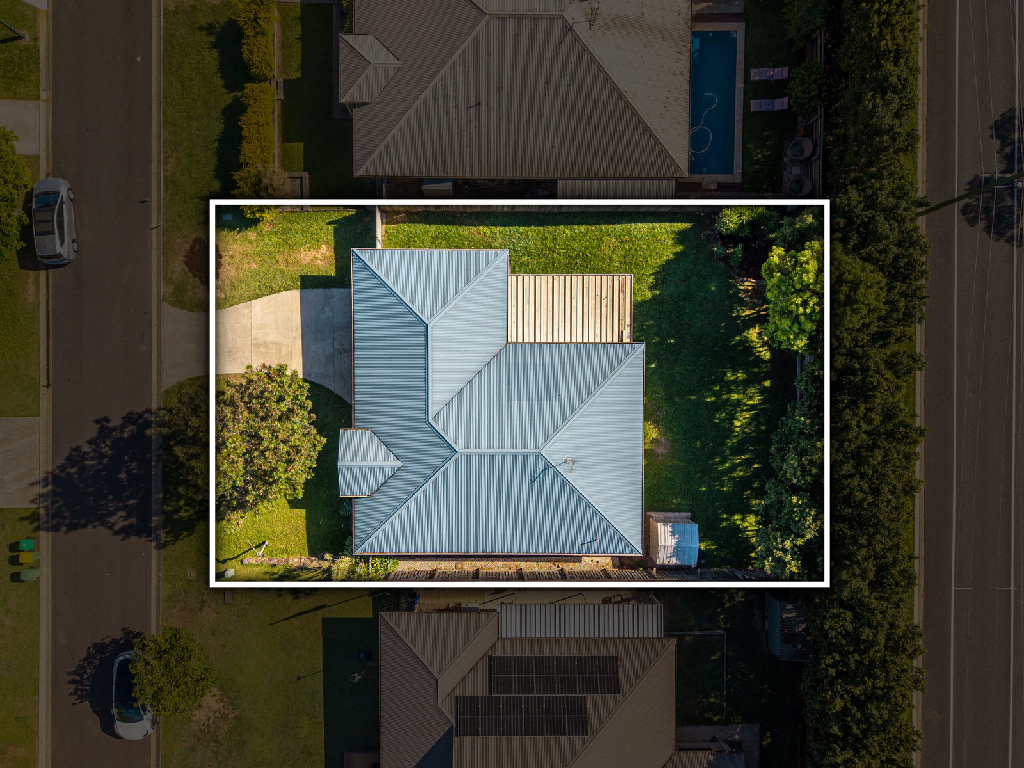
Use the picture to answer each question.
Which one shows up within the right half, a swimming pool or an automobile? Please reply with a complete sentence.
What appears within the right half is a swimming pool.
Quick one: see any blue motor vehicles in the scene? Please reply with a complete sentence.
No, the scene contains no blue motor vehicle.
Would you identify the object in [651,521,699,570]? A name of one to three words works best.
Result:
shed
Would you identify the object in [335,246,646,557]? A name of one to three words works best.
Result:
house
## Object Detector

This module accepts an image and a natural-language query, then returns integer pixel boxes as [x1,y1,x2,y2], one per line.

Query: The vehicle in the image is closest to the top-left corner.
[29,179,81,267]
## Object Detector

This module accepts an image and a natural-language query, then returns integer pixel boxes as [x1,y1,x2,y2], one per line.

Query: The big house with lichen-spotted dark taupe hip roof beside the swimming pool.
[336,0,693,180]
